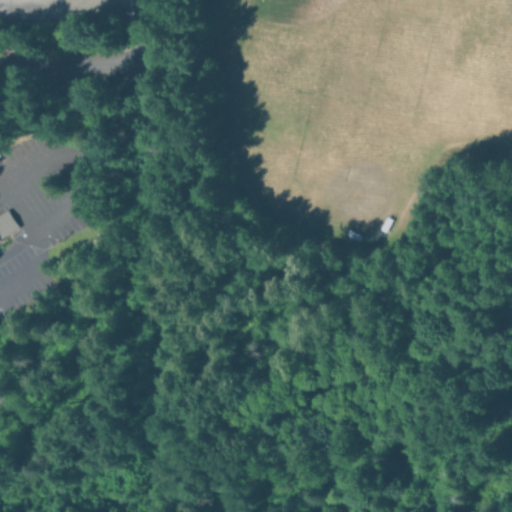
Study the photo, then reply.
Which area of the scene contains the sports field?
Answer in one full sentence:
Look in the top right portion of the view to spot the sports field.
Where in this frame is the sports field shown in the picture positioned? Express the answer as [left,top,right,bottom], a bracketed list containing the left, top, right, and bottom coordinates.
[236,0,512,249]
